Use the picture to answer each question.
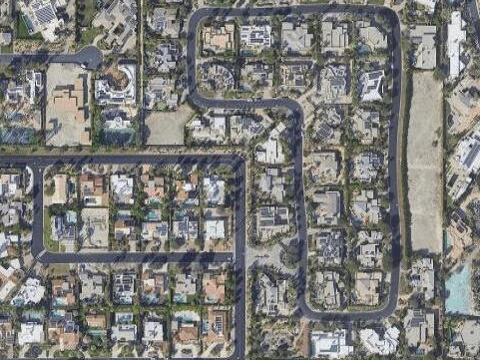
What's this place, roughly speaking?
residential area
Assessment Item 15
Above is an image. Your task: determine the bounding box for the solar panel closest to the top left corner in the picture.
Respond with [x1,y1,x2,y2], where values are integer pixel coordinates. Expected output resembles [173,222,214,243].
[32,3,56,23]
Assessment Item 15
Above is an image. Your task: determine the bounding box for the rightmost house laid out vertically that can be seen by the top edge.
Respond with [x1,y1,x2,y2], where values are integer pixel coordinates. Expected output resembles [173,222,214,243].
[445,10,466,78]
